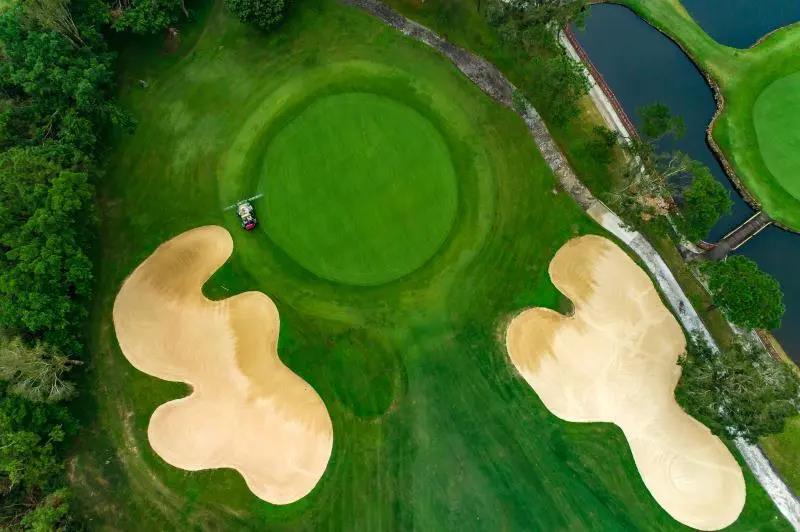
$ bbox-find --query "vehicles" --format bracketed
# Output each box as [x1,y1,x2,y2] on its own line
[222,195,260,227]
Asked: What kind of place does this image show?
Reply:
golf course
